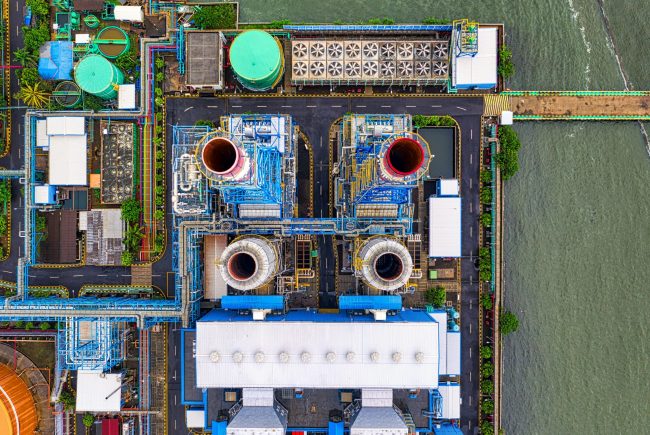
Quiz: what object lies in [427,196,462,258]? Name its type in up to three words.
building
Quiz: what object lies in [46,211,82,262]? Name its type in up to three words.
shed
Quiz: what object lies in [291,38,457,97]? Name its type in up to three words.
cooling tower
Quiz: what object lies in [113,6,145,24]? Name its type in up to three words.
shed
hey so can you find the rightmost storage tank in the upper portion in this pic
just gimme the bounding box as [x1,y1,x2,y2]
[229,27,288,92]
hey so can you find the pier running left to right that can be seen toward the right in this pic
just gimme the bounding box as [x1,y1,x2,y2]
[483,91,650,121]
